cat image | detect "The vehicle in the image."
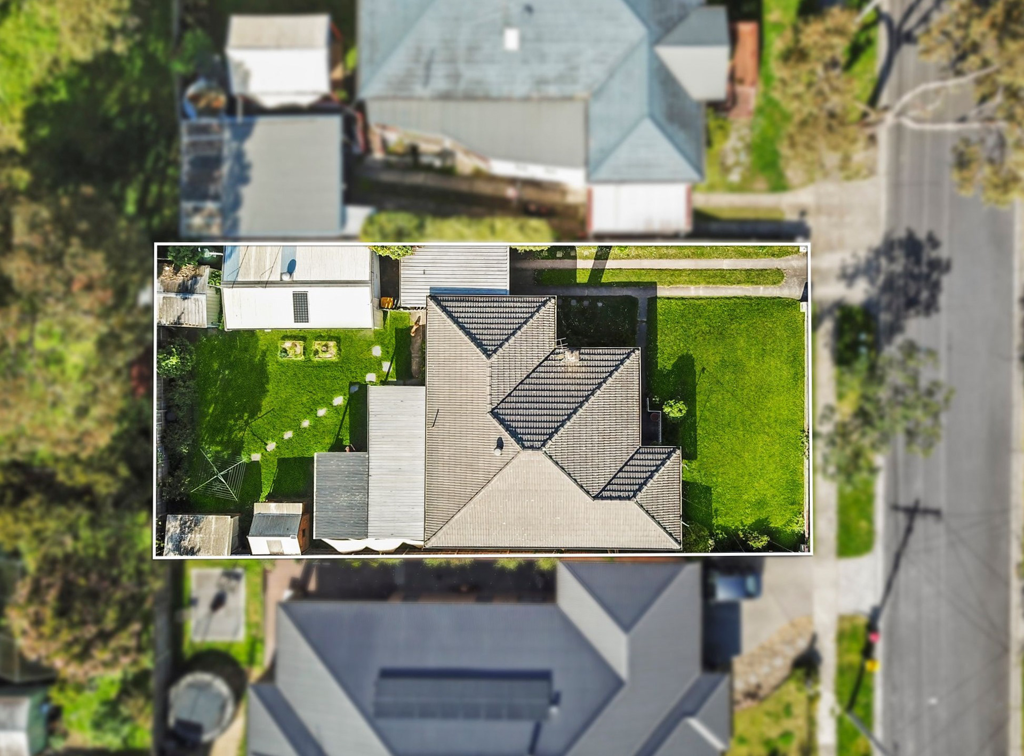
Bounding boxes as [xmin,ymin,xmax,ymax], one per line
[704,565,761,605]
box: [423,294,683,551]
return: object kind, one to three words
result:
house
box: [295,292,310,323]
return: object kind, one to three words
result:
solar panel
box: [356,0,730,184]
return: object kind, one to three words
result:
house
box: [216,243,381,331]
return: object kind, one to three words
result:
shed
